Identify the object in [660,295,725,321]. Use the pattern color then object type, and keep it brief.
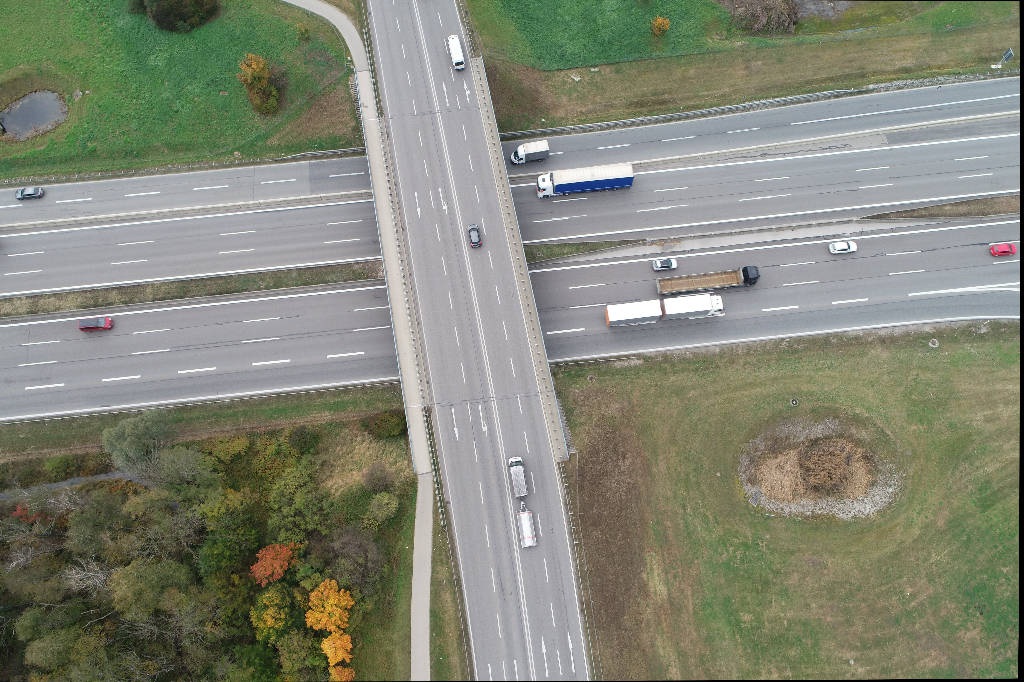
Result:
white truck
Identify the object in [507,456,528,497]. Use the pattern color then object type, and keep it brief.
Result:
white truck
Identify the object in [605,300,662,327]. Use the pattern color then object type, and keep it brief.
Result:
white trailer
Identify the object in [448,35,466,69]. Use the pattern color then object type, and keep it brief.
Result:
white vehicle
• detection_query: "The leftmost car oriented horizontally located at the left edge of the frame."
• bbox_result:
[15,186,43,199]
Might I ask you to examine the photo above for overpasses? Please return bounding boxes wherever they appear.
[354,52,568,474]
